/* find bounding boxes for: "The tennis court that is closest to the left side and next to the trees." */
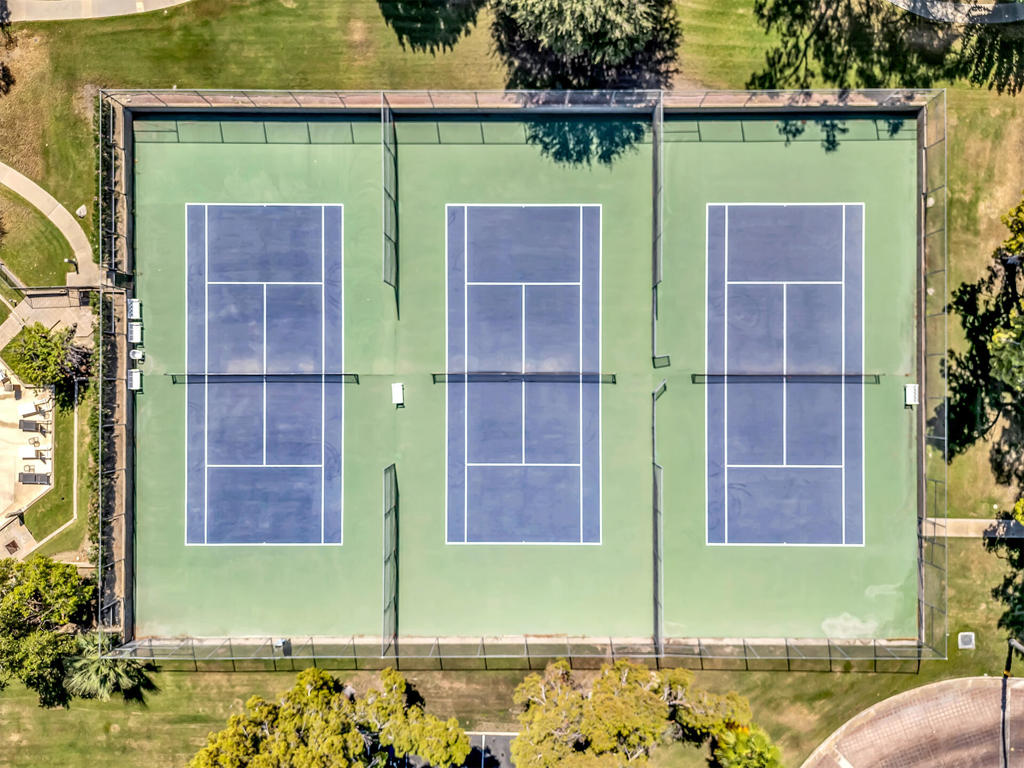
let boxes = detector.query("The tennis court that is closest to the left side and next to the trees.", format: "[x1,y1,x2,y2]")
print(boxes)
[133,113,393,637]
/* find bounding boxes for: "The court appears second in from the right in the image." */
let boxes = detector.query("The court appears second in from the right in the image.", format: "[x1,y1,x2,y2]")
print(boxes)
[393,113,653,637]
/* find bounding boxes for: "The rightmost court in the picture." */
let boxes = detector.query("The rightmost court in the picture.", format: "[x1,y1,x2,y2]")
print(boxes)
[653,113,916,637]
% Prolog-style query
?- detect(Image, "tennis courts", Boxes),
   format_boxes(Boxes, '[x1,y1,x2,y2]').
[133,113,393,637]
[393,113,653,637]
[653,113,916,637]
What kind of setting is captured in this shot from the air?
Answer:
sports ground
